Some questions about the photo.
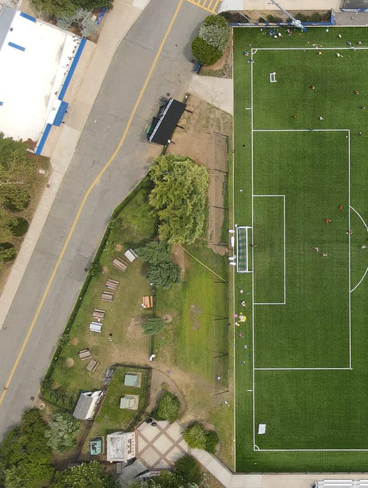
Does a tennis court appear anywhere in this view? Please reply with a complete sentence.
No, there's no tennis court here.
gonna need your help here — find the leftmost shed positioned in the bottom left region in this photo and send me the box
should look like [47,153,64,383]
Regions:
[64,392,100,424]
